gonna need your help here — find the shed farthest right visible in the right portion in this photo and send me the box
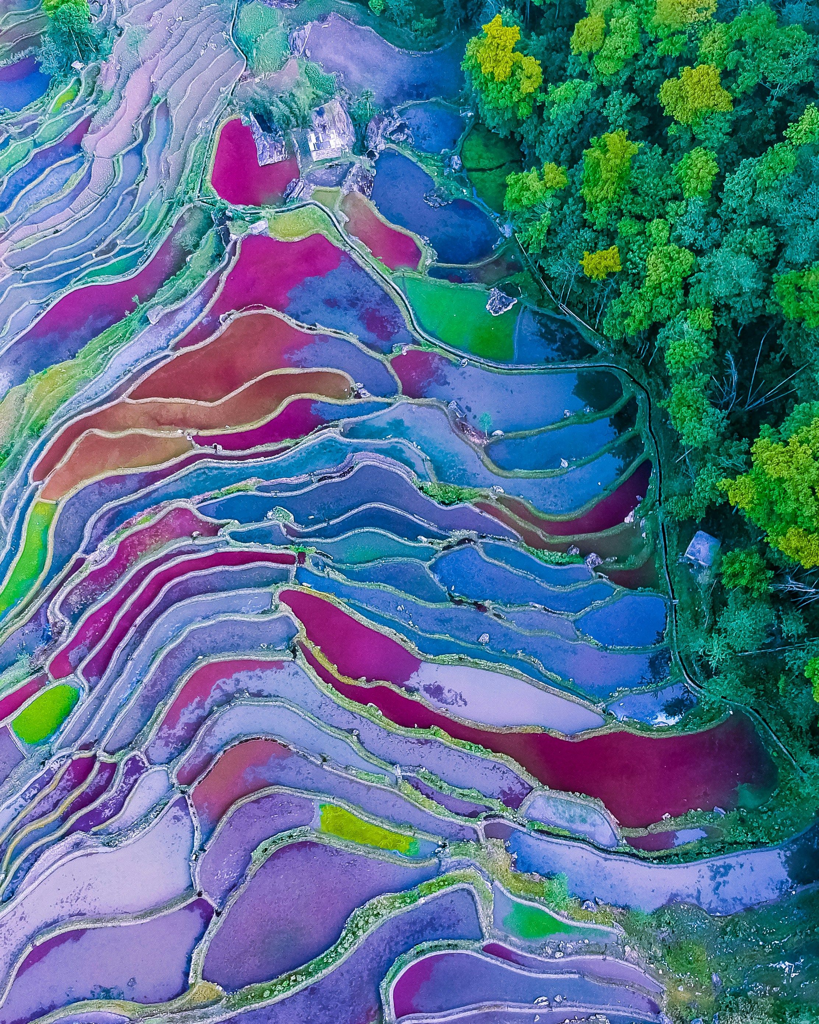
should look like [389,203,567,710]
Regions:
[681,530,722,567]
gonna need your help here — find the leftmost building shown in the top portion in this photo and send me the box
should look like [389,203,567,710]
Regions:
[241,105,287,172]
